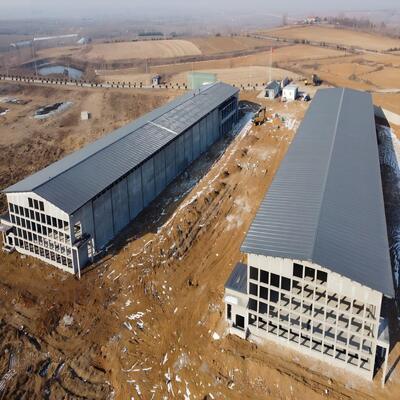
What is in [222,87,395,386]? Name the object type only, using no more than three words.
barn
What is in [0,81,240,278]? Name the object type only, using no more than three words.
barn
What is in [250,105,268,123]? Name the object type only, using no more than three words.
work vehicle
